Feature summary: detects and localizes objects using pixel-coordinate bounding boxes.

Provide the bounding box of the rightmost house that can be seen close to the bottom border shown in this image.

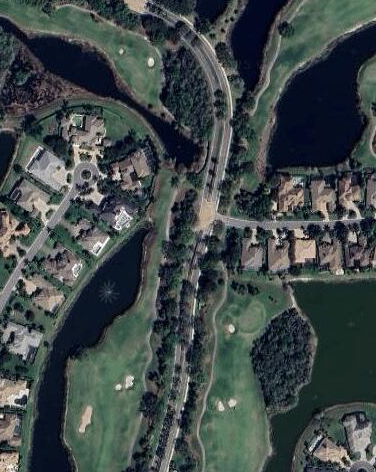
[345,409,371,453]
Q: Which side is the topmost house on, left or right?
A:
left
